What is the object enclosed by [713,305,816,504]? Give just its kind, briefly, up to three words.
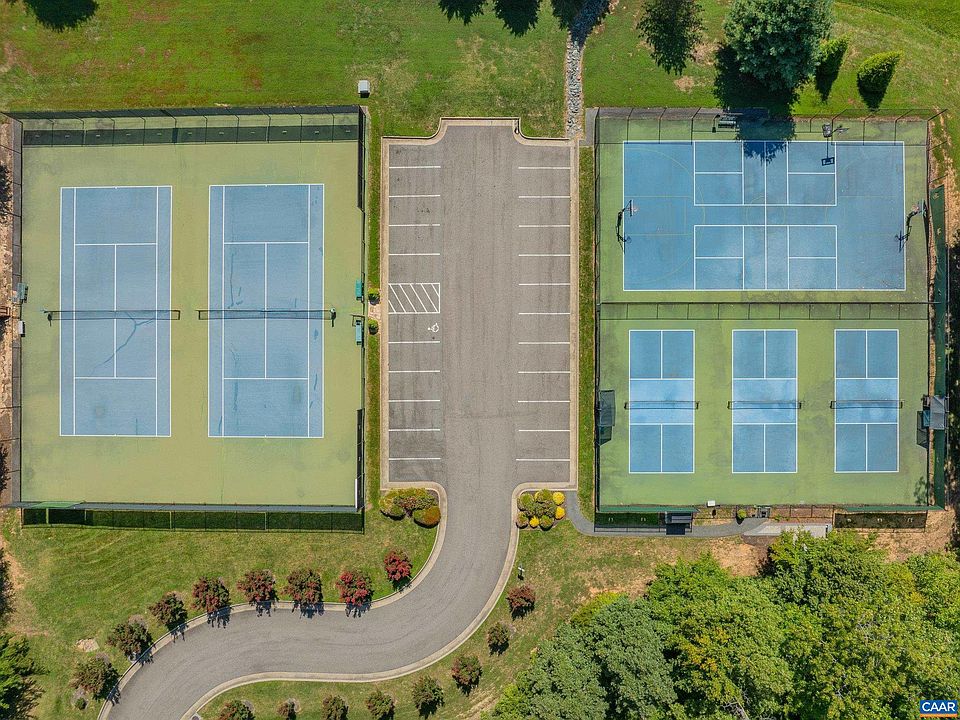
sports court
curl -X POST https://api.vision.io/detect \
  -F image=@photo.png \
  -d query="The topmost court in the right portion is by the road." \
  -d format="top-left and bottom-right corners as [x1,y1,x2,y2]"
[599,119,929,304]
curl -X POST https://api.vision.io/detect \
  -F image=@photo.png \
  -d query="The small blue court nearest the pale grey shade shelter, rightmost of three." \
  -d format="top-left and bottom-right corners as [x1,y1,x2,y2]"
[816,305,929,504]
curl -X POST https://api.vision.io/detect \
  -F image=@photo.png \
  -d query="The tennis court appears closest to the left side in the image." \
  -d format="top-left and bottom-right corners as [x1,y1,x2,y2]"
[21,117,190,504]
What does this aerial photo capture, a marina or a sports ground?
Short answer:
sports ground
